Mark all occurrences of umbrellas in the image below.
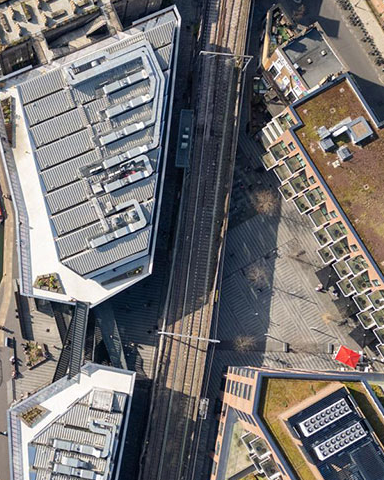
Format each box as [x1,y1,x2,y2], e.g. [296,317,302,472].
[352,327,377,347]
[335,346,360,368]
[335,295,359,317]
[314,266,339,289]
